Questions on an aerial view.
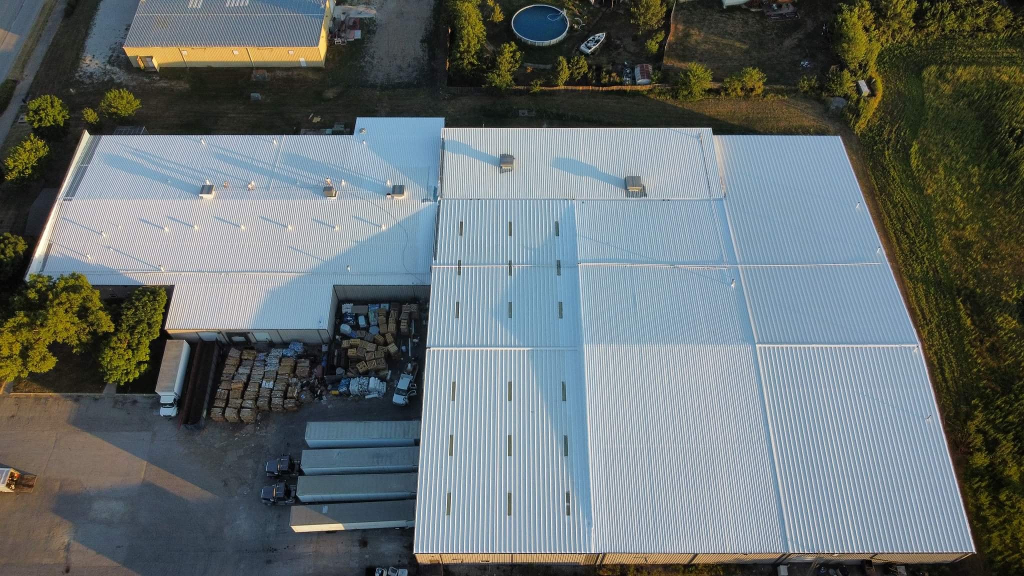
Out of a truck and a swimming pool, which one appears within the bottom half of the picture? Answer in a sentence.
You can see a truck within the bottom half of the picture.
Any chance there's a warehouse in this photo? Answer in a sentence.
Yes, the image includes a warehouse.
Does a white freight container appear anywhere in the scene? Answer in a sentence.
No, there is no white freight container in the image.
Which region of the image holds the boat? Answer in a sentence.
The boat sits in the top section of the image.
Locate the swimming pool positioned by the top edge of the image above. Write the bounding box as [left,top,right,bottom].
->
[512,5,569,47]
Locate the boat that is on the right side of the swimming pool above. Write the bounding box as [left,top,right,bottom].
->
[580,31,606,53]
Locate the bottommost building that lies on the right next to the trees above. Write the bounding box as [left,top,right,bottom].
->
[413,127,980,567]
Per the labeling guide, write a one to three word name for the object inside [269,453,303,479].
truck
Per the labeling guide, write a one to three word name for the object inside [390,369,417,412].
truck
